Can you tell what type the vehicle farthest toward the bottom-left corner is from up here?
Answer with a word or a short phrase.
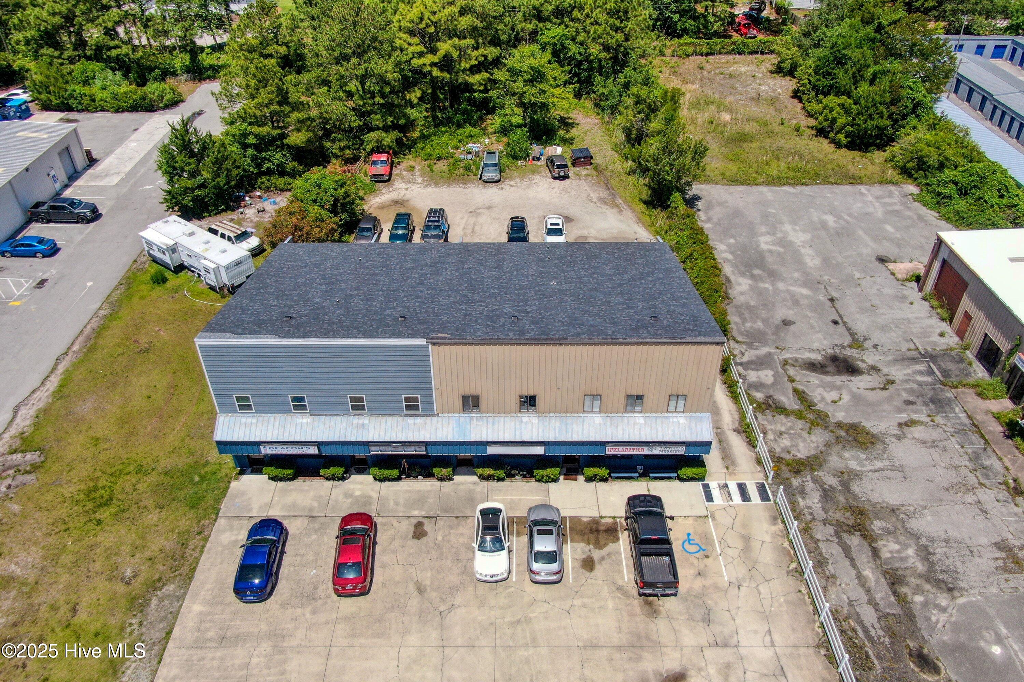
automobile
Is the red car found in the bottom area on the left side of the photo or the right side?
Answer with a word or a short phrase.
left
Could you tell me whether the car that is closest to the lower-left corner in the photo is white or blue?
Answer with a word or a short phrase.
blue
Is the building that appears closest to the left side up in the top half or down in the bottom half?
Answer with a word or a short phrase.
top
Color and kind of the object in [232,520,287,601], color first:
blue car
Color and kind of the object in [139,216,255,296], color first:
white camper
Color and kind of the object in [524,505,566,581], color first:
gray car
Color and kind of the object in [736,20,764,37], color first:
red vehicle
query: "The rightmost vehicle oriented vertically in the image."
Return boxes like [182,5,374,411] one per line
[624,496,680,599]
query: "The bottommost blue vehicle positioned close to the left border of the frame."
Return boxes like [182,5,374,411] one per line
[0,234,58,257]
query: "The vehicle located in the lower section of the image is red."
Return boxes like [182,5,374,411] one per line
[333,515,375,594]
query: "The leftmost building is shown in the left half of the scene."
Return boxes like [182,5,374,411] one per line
[0,116,89,244]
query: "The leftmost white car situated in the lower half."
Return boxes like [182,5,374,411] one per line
[471,503,512,582]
